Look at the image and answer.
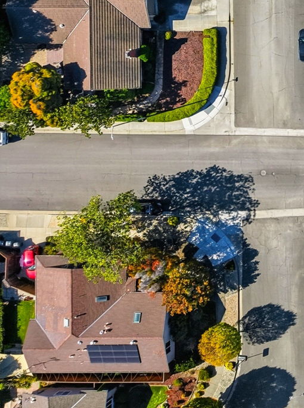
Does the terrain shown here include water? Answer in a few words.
No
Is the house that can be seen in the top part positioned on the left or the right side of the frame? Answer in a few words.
left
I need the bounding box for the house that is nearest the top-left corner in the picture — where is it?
[1,0,157,92]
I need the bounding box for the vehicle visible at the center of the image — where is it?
[135,199,169,215]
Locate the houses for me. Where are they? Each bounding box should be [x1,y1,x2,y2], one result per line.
[1,0,157,92]
[21,384,117,408]
[17,254,175,383]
